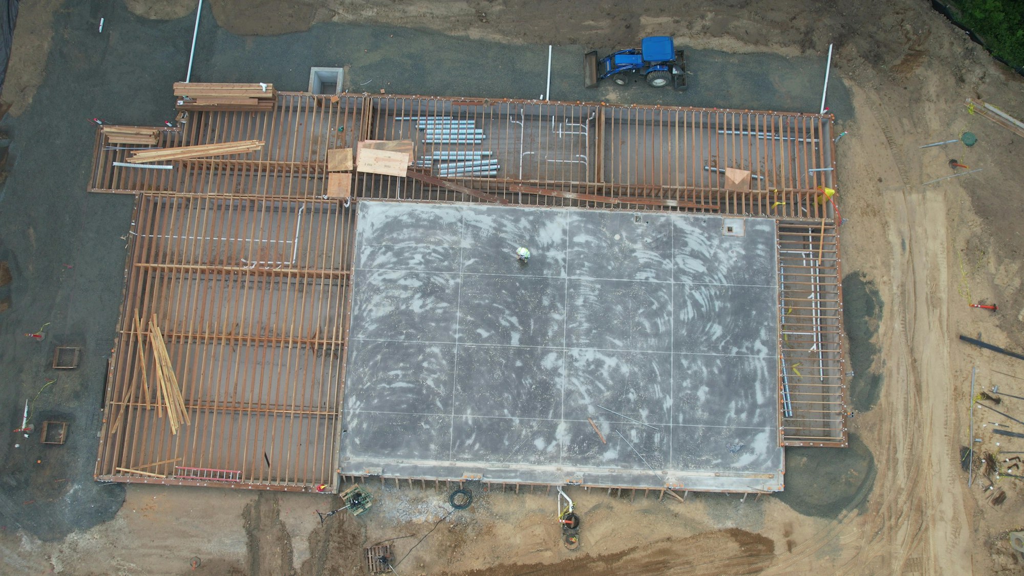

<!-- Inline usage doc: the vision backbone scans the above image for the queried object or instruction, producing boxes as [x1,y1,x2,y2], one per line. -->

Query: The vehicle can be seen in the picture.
[584,38,687,90]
